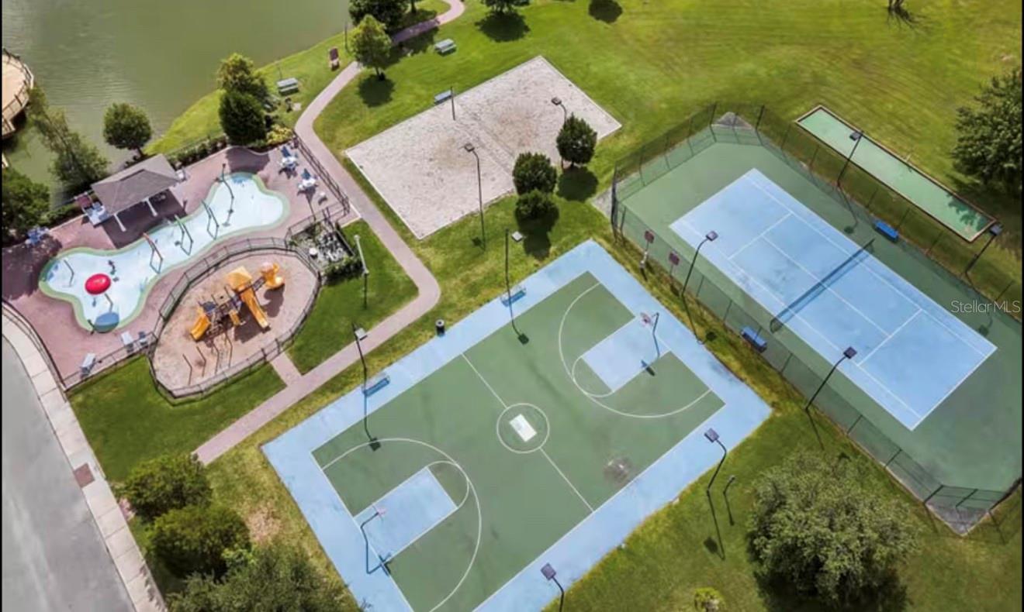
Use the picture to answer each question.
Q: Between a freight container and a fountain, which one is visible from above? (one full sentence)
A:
The image shows a fountain.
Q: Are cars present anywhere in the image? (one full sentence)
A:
No, the picture doesn't show any car.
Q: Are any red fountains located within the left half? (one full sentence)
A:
Yes, a red fountain can be seen within the left half.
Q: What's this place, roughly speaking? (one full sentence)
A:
The area seen from above is a sports ground.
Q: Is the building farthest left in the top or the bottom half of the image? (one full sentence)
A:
It is in the top half that the building farthest left appears.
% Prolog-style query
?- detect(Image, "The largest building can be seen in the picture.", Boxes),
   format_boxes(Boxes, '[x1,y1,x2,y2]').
[90,154,183,230]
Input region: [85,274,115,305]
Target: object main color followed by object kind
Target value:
red fountain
